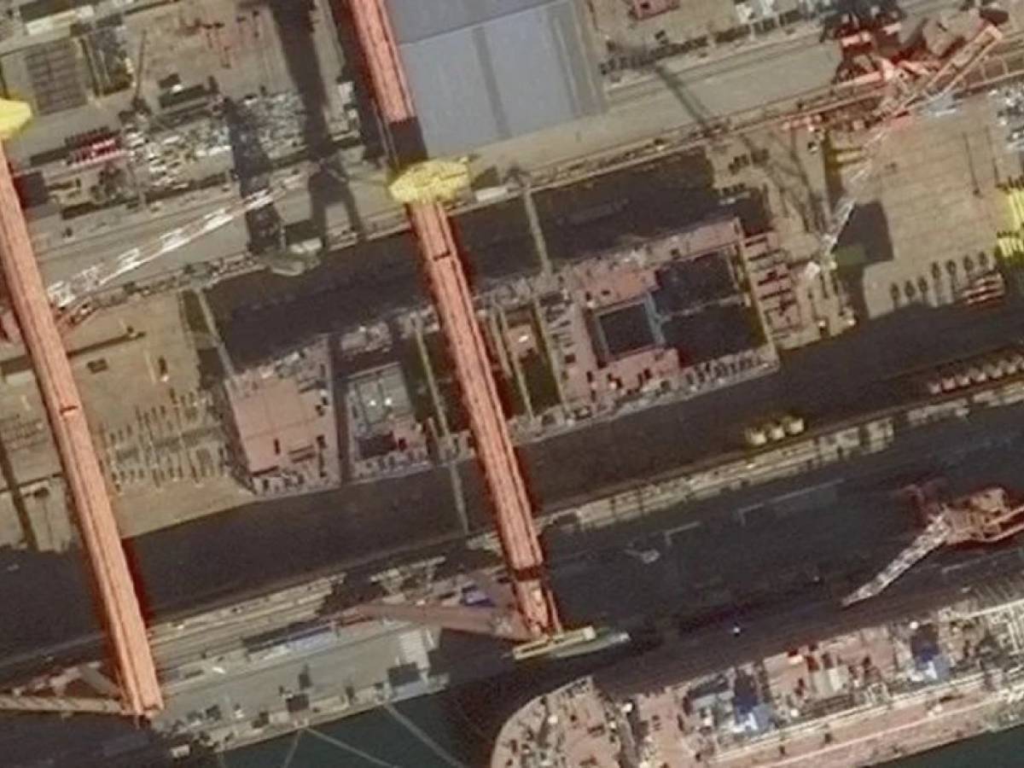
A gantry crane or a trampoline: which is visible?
gantry crane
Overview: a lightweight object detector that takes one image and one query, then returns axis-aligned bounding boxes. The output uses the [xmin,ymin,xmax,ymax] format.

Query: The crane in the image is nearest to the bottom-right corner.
[818,479,1024,607]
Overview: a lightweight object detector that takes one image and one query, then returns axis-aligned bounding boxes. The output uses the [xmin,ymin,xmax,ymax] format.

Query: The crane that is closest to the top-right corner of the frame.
[784,22,1006,277]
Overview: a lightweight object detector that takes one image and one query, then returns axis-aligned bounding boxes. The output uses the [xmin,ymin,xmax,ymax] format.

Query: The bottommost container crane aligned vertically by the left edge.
[0,91,159,719]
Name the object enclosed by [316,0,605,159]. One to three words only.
building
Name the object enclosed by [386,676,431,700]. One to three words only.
shed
